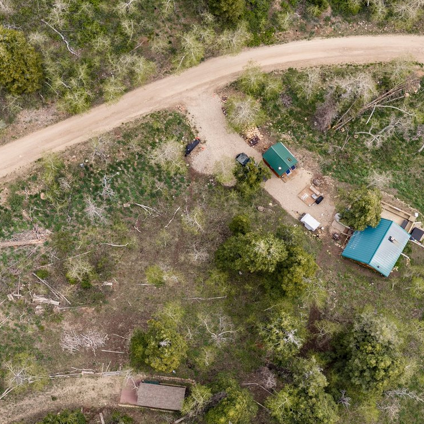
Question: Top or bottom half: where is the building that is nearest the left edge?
bottom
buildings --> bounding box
[137,382,187,411]
[262,140,299,179]
[339,215,411,279]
